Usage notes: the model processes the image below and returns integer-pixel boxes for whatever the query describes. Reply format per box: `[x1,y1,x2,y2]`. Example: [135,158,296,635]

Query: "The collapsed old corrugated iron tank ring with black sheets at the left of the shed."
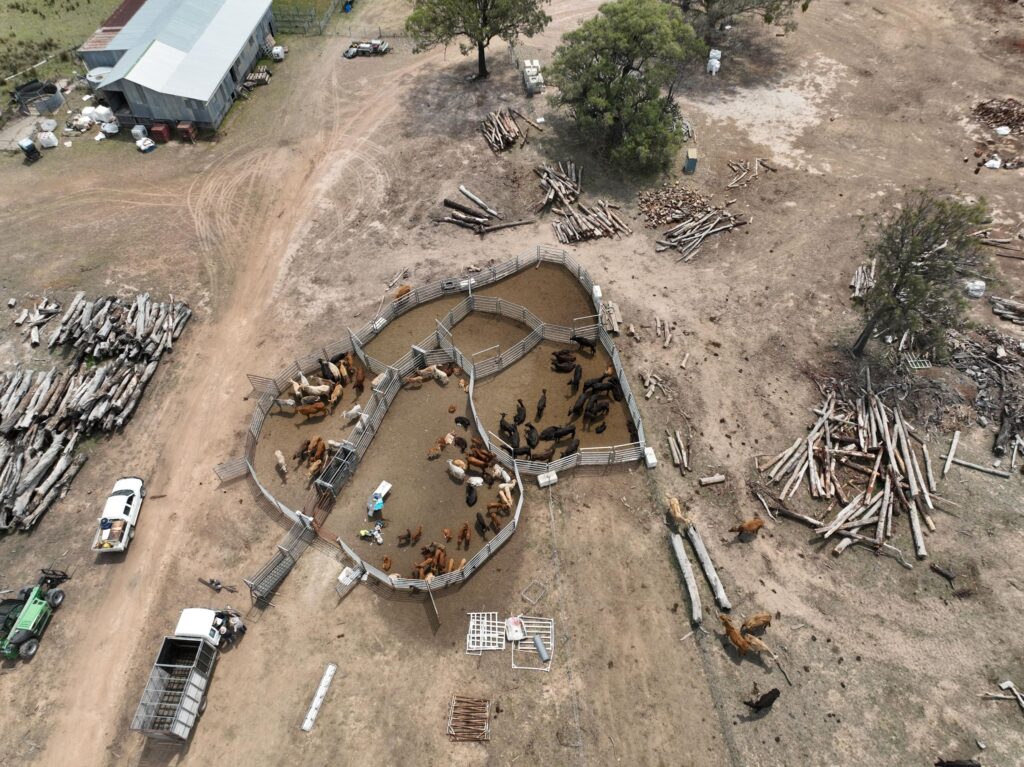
[5,82,64,119]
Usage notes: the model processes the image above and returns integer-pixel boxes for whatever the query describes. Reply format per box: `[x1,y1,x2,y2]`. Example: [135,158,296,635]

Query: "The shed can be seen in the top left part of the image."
[77,0,291,128]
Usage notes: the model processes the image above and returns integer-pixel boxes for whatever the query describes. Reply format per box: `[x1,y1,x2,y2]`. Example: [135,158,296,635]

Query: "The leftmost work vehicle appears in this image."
[0,560,77,662]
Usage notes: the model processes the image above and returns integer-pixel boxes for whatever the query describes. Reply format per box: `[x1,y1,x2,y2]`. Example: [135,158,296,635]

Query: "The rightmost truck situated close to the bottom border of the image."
[128,605,235,754]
